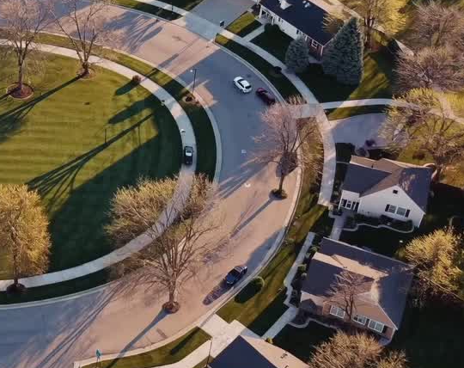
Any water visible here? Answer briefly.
No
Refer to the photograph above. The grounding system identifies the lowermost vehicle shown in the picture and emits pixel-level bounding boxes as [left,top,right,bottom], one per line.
[221,259,253,287]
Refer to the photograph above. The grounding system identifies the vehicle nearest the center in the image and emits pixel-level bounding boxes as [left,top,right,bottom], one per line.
[183,144,195,164]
